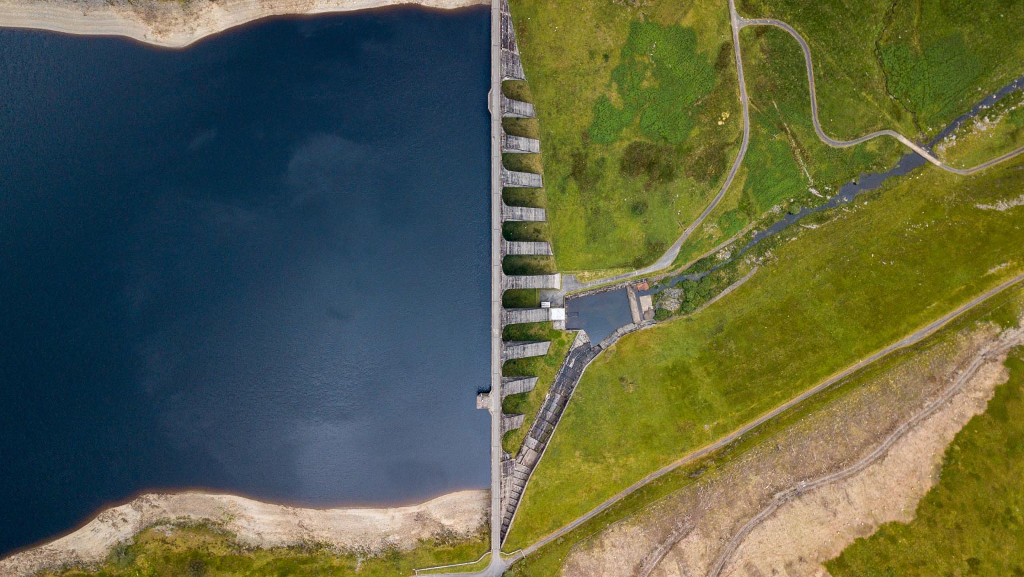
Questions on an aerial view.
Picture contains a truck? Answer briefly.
No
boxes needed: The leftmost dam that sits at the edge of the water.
[477,0,557,553]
